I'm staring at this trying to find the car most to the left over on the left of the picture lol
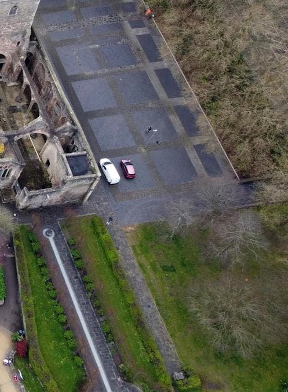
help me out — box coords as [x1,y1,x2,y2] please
[100,156,122,184]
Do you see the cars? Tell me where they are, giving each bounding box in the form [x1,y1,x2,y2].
[100,156,122,184]
[121,158,139,181]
